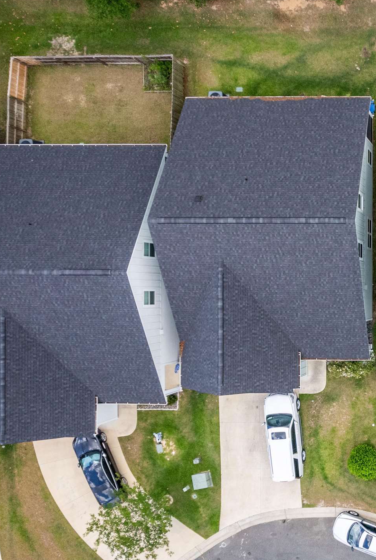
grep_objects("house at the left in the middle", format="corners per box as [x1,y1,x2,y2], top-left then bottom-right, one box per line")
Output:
[0,142,182,445]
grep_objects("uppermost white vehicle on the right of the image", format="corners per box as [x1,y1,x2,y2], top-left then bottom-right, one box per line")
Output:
[258,390,307,483]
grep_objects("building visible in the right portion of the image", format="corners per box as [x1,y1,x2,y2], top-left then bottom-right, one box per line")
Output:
[148,95,375,397]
